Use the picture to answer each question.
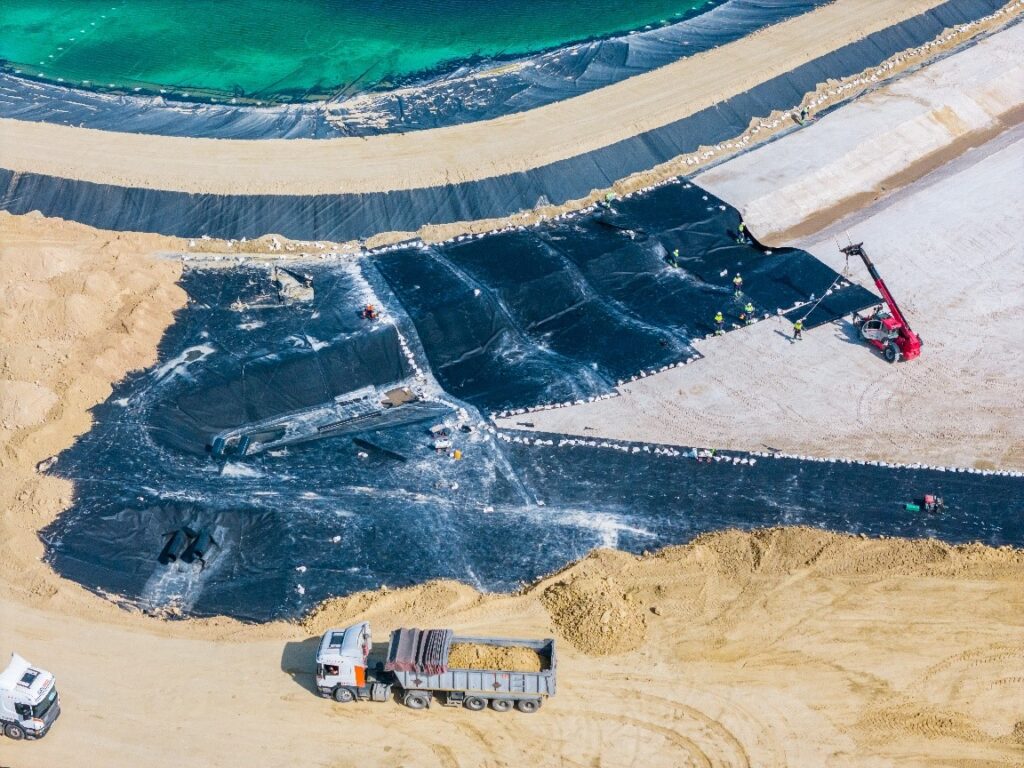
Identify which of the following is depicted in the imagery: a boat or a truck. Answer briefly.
truck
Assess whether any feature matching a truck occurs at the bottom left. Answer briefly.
Yes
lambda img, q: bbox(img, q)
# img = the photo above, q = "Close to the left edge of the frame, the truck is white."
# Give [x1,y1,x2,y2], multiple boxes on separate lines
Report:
[0,651,67,741]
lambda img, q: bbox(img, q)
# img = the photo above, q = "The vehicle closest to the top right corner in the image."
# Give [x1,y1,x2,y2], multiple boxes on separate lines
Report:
[844,233,921,362]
